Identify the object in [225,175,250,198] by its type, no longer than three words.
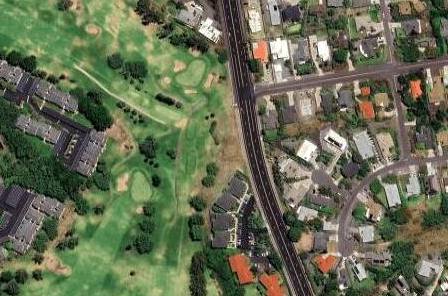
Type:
building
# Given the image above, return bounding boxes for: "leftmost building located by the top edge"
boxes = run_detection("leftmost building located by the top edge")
[178,1,203,25]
